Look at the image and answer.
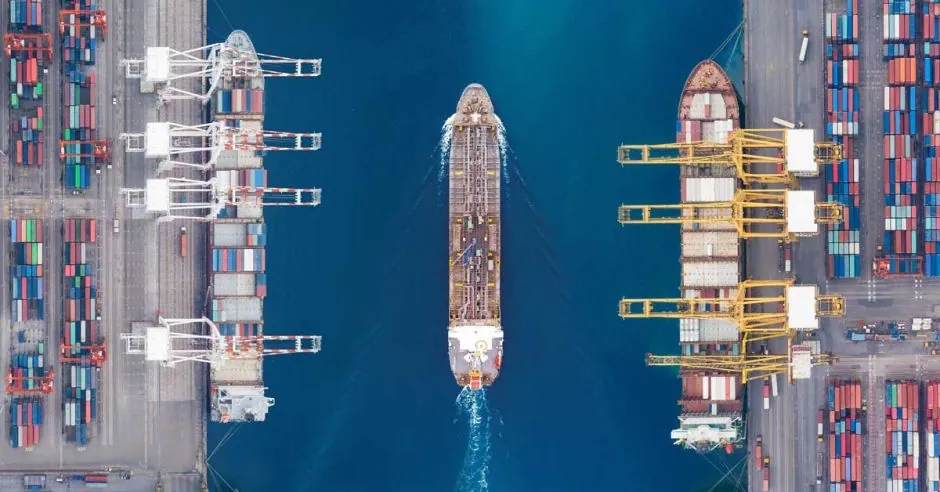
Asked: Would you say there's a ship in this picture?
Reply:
Yes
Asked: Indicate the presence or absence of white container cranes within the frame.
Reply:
Yes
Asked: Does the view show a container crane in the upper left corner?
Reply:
Yes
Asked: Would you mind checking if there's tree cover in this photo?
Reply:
No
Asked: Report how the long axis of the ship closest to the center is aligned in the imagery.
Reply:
up and down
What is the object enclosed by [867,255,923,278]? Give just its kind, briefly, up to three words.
container crane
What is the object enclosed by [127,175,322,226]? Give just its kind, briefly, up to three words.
container crane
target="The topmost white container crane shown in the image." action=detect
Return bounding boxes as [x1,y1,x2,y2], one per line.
[127,47,322,106]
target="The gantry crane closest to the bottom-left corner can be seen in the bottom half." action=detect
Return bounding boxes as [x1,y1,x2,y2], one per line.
[6,366,60,397]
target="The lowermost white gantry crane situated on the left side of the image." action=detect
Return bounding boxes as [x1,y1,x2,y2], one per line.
[127,311,322,363]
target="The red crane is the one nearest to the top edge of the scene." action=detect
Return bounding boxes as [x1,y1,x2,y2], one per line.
[60,7,114,41]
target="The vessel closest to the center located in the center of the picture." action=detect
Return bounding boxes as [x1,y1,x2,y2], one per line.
[448,82,503,390]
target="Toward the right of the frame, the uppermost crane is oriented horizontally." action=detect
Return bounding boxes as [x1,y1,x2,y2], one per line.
[618,129,844,188]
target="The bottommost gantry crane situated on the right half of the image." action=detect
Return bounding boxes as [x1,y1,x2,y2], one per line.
[646,330,841,387]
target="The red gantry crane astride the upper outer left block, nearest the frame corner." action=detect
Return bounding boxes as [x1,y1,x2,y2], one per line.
[4,31,59,64]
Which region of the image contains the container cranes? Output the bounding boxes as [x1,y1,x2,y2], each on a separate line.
[127,47,322,106]
[127,311,322,363]
[6,366,60,397]
[127,122,322,174]
[618,129,844,188]
[60,7,114,41]
[646,330,841,387]
[127,175,322,226]
[867,255,923,278]
[618,185,844,246]
[618,274,844,334]
[4,31,59,64]
[59,136,114,163]
[60,338,112,366]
